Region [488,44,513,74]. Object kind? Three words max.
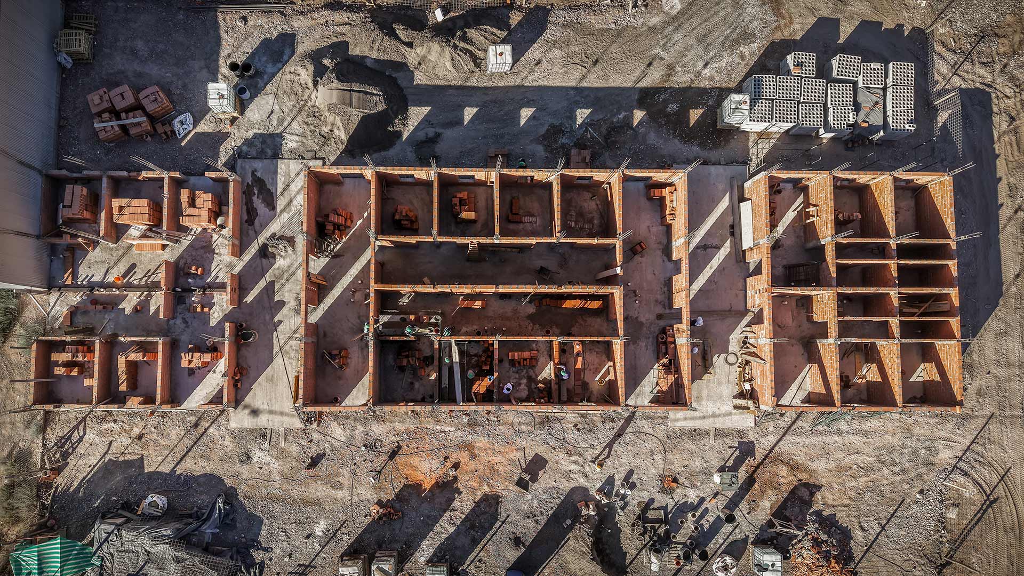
water tank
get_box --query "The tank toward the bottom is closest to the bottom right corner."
[750,542,781,574]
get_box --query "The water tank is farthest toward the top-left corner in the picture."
[207,79,238,111]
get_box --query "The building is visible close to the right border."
[746,161,979,413]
